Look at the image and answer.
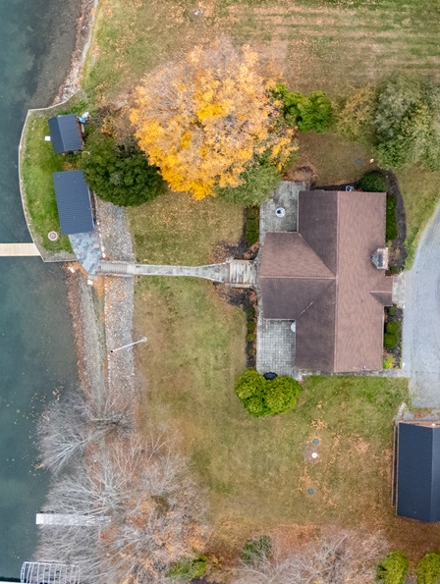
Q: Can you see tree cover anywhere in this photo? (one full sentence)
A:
Yes, there is tree cover in the image.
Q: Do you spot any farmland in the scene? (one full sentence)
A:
No, there's no farmland in this view.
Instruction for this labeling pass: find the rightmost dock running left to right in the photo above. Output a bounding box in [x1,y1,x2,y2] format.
[33,511,113,528]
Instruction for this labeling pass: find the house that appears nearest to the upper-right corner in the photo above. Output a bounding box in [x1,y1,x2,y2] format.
[260,190,399,372]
